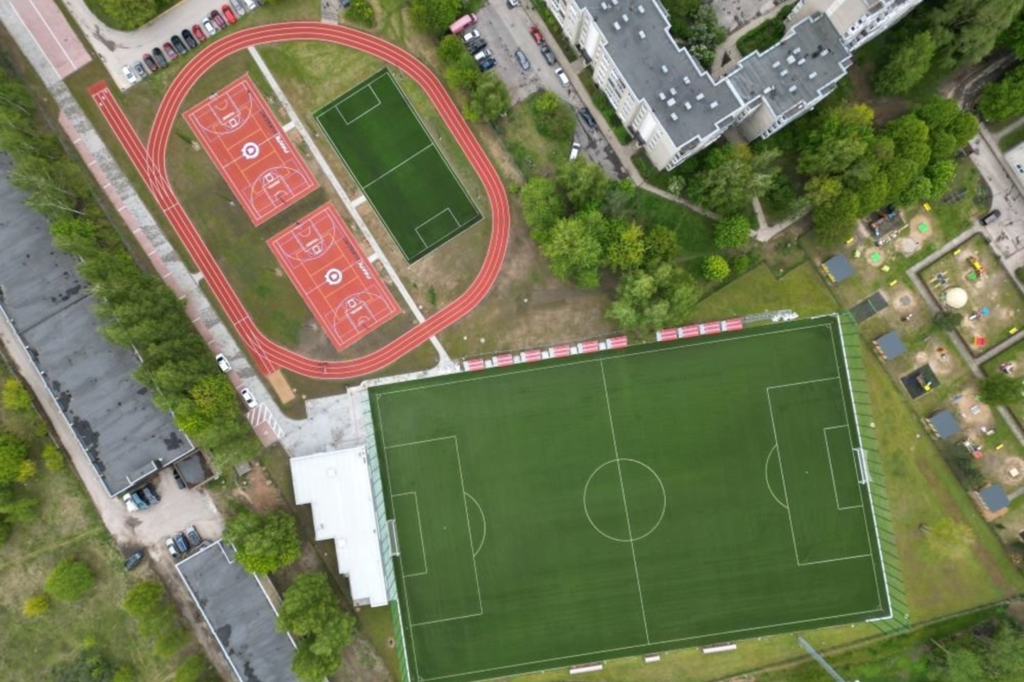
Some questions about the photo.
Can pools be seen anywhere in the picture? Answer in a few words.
No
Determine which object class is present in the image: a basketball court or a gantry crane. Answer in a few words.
basketball court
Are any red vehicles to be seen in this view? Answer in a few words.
Yes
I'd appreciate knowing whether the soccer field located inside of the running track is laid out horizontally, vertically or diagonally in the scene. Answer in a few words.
diagonally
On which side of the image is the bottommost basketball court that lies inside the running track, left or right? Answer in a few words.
left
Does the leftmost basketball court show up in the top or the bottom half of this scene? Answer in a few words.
top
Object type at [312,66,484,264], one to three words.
soccer field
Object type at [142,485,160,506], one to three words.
car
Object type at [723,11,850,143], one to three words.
building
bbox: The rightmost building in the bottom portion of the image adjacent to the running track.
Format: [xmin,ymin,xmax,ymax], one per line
[290,445,391,609]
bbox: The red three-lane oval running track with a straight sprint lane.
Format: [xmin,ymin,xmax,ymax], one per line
[88,21,510,379]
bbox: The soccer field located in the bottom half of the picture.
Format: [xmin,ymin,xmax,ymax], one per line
[369,316,889,682]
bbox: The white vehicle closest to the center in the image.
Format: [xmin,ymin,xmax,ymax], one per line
[569,140,581,162]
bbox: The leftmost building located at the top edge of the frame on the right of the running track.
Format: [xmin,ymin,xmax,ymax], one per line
[557,0,743,173]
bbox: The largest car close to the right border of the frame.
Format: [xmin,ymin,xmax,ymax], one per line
[979,209,1001,225]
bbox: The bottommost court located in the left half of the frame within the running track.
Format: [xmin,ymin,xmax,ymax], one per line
[267,201,402,353]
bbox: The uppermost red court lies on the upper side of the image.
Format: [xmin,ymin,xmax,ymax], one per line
[182,74,320,227]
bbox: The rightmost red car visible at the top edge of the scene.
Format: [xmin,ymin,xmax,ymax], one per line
[529,27,544,45]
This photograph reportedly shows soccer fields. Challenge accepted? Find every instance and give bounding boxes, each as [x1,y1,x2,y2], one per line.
[369,316,889,682]
[312,66,484,264]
